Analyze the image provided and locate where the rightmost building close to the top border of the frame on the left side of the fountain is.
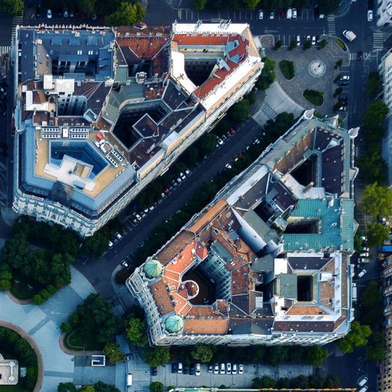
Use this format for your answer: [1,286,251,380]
[172,18,265,135]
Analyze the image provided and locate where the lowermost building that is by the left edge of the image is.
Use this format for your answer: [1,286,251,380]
[14,124,139,235]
